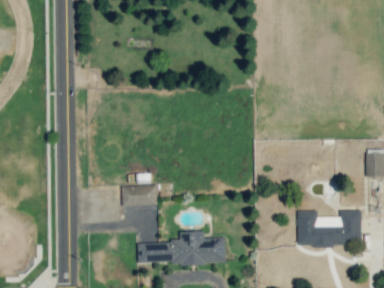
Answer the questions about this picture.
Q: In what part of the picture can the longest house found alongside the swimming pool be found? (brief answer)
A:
bottom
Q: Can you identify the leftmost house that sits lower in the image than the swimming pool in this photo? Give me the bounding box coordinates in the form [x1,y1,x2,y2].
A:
[137,231,225,266]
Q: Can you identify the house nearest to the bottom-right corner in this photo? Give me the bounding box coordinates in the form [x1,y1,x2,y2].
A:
[296,210,361,248]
